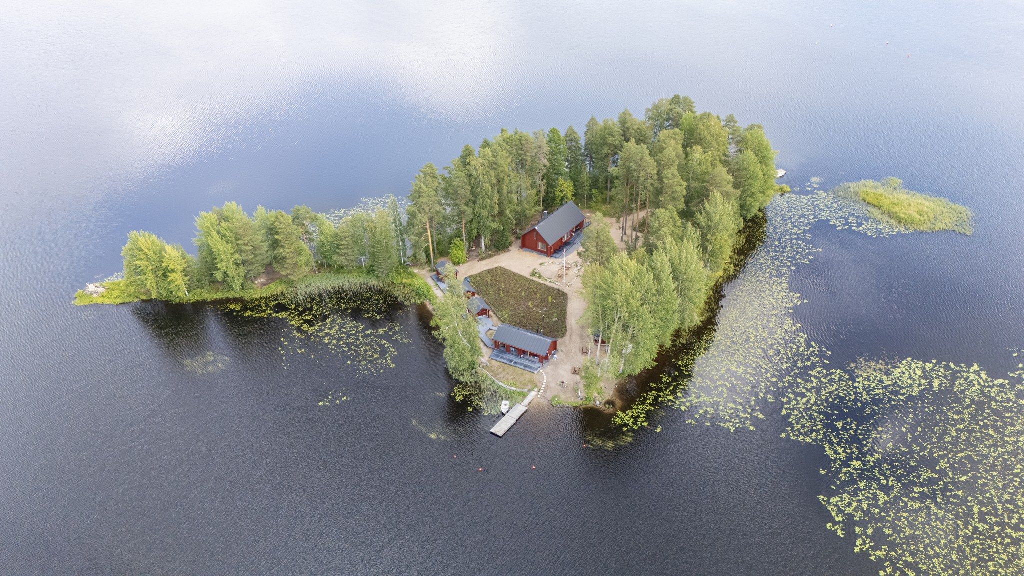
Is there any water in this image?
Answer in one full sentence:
Yes, there is water in the image.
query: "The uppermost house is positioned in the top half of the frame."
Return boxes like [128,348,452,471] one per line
[519,200,593,259]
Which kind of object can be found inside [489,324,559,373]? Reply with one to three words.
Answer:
house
